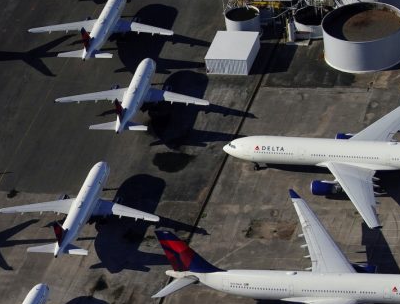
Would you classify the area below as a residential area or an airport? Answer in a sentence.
The area seen from above is an airport.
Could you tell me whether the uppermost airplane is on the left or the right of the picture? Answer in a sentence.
You can find the uppermost airplane on the left side of the picture.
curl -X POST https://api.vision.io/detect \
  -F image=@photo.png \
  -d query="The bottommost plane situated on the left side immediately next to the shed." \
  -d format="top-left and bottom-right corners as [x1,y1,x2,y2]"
[53,57,210,133]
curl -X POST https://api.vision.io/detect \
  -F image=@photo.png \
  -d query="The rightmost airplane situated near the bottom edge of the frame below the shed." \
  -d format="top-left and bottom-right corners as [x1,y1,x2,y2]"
[153,187,400,304]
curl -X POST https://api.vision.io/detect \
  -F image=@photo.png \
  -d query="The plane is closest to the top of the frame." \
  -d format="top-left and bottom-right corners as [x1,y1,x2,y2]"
[25,0,174,61]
